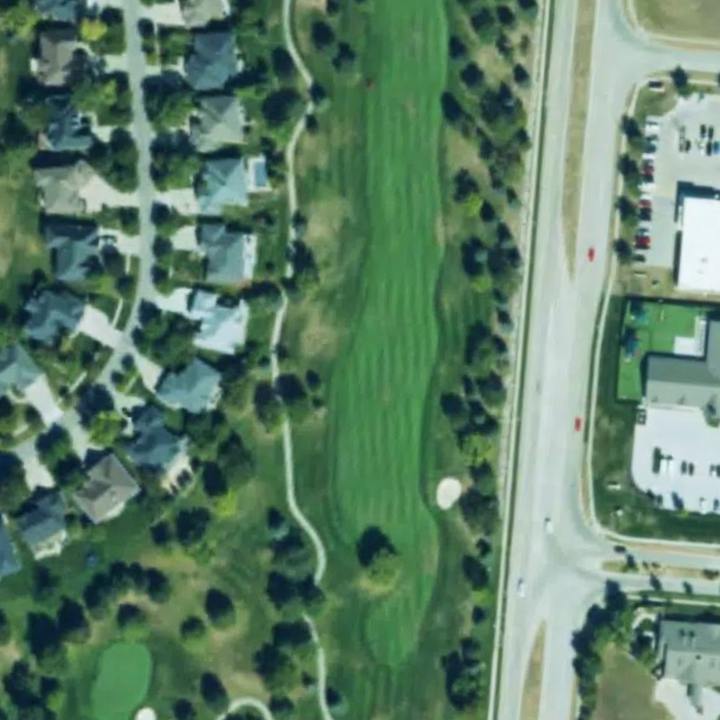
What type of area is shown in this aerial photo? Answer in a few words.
golf course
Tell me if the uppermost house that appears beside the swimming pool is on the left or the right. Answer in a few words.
left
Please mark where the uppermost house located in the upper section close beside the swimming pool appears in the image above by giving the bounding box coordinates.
[190,100,243,149]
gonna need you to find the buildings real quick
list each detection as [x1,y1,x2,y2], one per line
[660,621,720,715]
[199,222,249,283]
[46,106,92,153]
[647,317,720,422]
[0,516,19,570]
[38,31,83,86]
[74,459,139,522]
[190,290,246,353]
[20,288,86,348]
[159,360,221,414]
[190,100,243,149]
[195,159,248,213]
[0,345,44,402]
[676,197,720,292]
[13,488,68,540]
[122,408,186,472]
[45,224,100,280]
[38,162,104,217]
[179,0,226,24]
[184,32,237,93]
